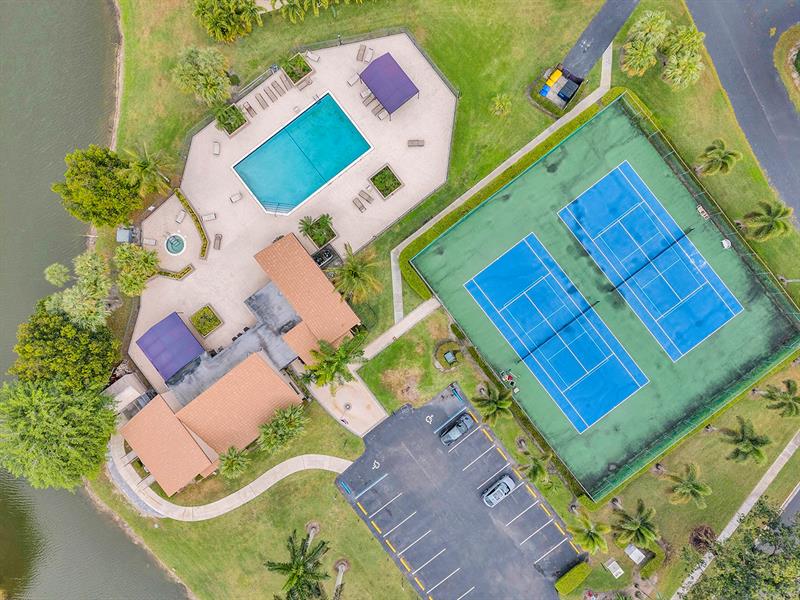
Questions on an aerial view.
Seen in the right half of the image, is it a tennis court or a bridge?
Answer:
tennis court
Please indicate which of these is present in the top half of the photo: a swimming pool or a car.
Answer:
swimming pool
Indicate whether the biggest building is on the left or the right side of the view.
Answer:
left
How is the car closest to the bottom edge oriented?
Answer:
at an angle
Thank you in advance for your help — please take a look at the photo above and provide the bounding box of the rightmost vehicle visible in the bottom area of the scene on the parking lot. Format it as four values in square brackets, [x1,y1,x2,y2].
[481,477,517,510]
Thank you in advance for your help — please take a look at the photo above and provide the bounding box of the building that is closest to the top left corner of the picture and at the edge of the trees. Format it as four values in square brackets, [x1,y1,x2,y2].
[109,227,141,241]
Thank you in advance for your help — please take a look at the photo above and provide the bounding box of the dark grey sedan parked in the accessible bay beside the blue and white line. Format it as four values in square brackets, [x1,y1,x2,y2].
[439,416,475,448]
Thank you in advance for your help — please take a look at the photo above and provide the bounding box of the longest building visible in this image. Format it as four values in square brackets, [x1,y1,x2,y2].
[121,233,360,497]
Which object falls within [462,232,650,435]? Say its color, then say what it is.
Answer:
blue tennis court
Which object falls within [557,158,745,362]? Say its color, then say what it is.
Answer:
blue tennis court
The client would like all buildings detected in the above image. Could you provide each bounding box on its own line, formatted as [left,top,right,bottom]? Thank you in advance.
[109,227,141,241]
[121,233,360,497]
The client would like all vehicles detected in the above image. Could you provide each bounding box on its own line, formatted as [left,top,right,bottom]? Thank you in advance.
[481,477,517,510]
[439,416,475,448]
